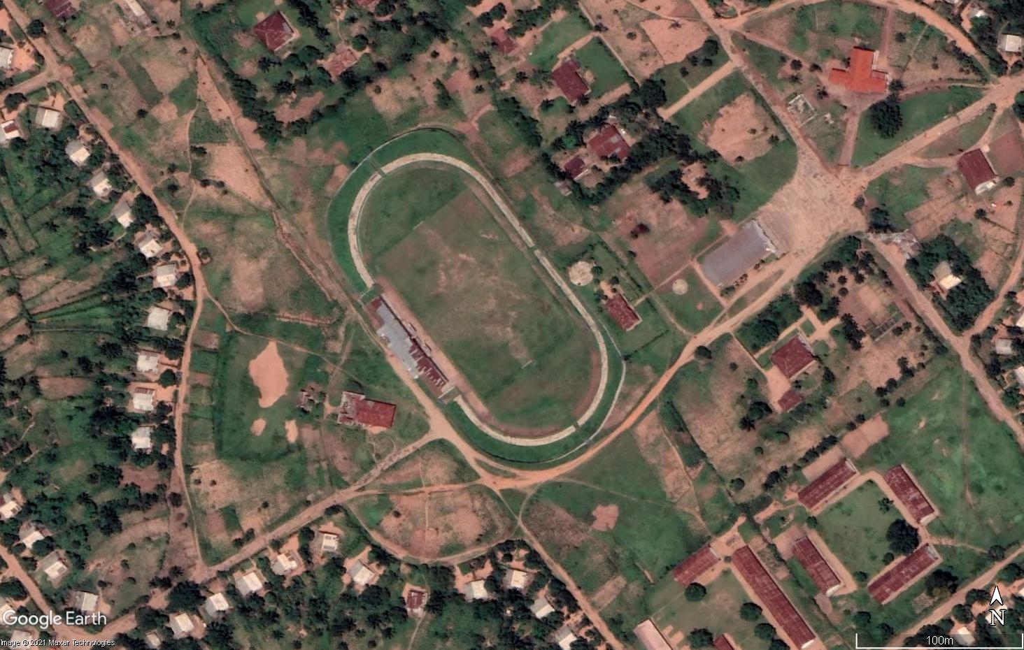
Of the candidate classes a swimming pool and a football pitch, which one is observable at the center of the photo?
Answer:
football pitch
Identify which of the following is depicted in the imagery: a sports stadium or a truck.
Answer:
sports stadium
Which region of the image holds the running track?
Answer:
center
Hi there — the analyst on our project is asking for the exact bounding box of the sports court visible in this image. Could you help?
[842,415,886,458]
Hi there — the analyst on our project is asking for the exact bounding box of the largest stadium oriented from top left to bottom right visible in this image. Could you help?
[325,127,624,464]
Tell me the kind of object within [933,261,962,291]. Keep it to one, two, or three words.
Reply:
house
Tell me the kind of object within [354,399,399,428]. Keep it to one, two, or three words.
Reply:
building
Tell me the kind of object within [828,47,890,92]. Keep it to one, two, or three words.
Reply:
building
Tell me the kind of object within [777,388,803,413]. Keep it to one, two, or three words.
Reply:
shed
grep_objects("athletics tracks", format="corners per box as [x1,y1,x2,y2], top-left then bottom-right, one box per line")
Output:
[360,163,599,437]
